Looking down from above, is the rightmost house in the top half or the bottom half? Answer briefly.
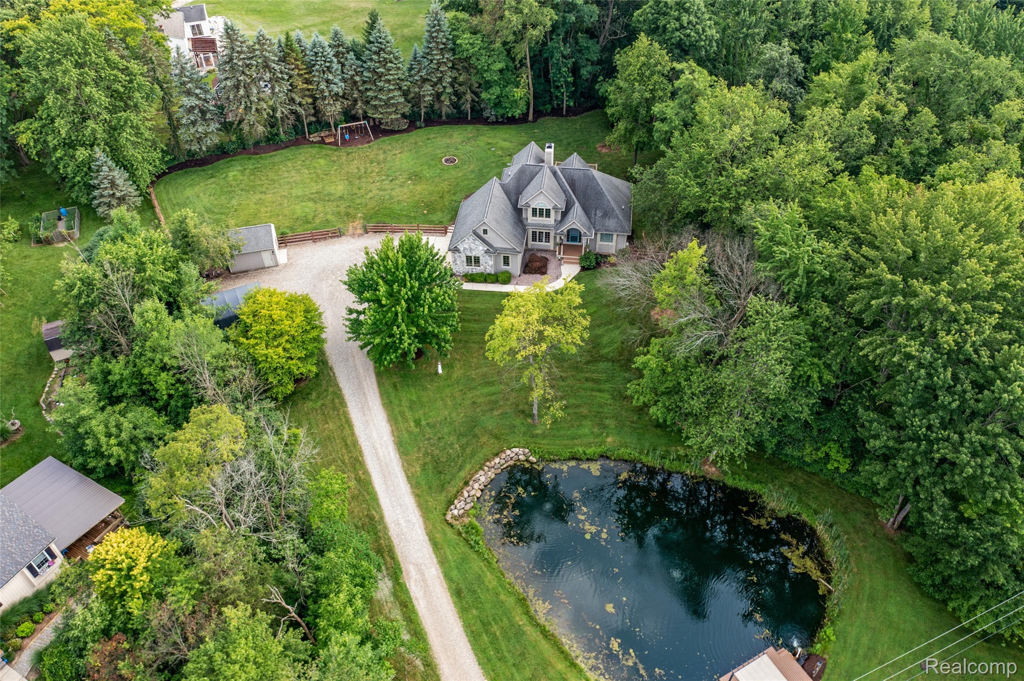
top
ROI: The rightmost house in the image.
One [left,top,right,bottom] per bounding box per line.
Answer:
[447,139,633,275]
